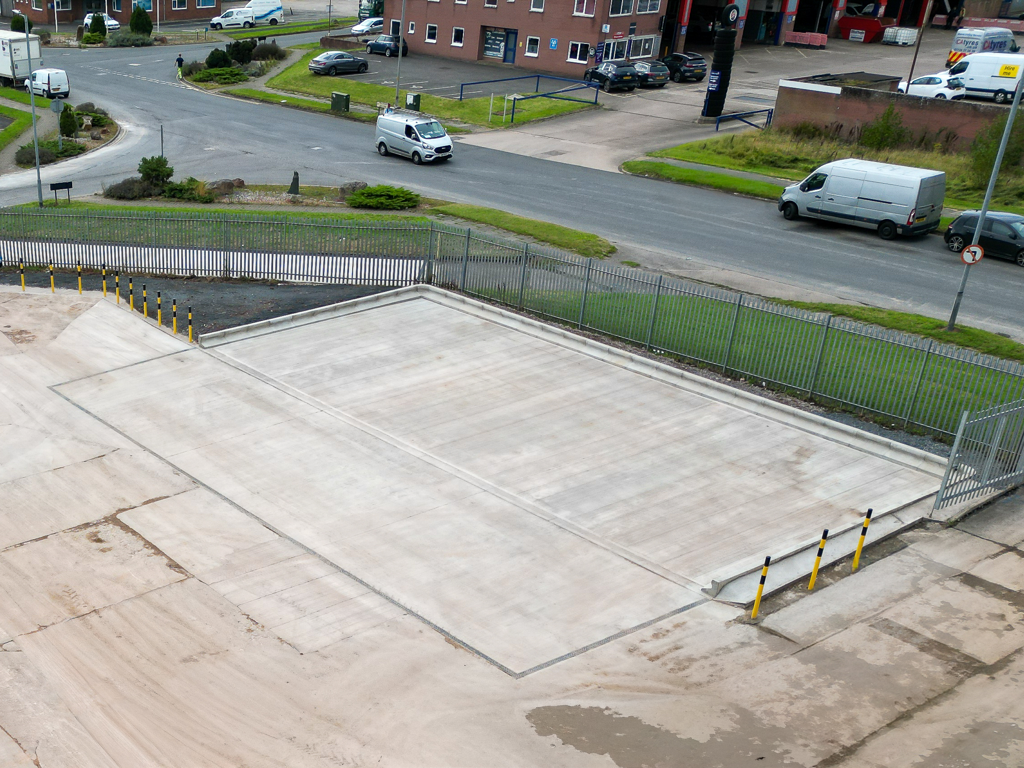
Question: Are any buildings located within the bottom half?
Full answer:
No, there is no building within the bottom half.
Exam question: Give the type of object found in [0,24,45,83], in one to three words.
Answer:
truck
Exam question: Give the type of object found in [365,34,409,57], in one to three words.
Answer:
car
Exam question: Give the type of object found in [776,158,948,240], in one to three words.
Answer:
van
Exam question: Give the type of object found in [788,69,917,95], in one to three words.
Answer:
building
